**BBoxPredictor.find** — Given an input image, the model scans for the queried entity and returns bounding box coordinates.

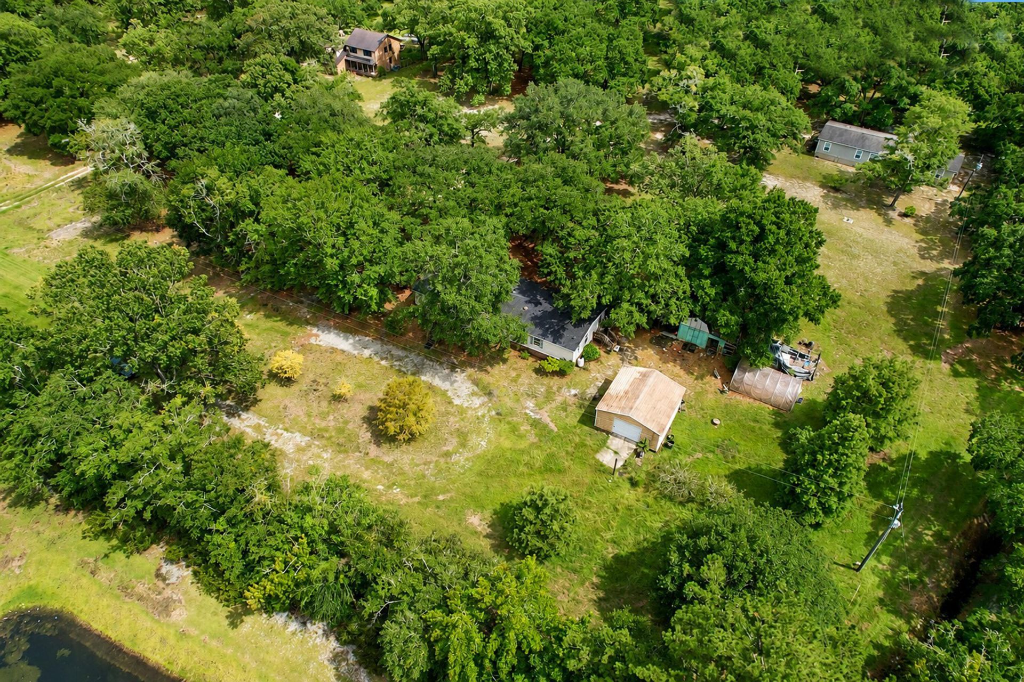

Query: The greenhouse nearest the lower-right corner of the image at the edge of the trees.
[730,360,802,412]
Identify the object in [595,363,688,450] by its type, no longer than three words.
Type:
building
